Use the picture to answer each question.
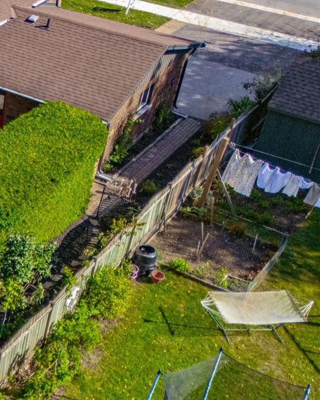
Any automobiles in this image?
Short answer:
No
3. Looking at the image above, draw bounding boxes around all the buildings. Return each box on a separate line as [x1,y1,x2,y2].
[0,0,215,190]
[256,49,320,181]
